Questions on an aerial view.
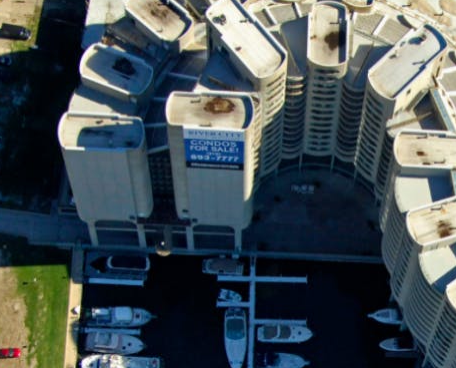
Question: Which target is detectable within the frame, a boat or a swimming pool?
boat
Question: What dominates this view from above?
buildings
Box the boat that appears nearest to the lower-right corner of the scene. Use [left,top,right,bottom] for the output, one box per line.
[380,337,420,352]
